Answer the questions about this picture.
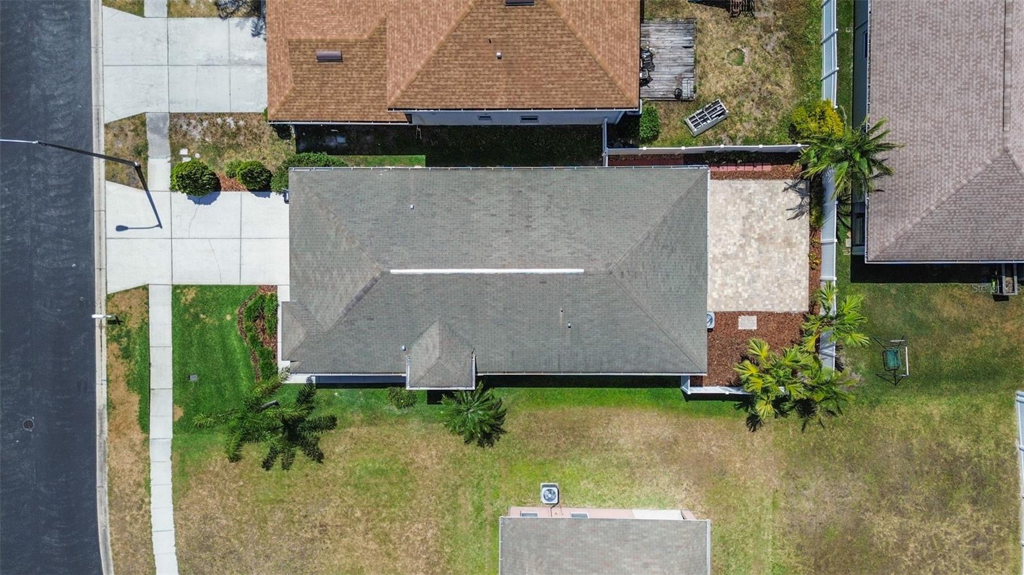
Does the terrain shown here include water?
No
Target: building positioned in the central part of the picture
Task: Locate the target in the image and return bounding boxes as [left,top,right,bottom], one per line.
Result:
[281,167,709,389]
